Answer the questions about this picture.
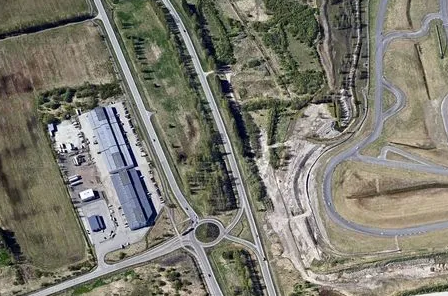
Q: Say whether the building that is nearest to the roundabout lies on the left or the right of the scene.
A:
left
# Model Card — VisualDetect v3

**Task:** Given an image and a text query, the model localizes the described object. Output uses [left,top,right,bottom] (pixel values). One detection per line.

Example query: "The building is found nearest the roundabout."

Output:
[109,167,156,229]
